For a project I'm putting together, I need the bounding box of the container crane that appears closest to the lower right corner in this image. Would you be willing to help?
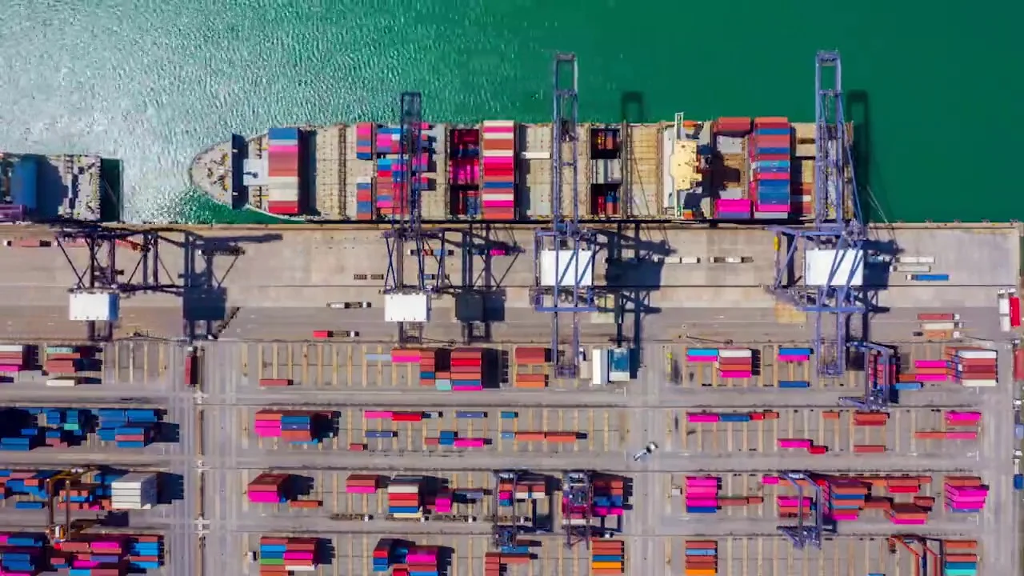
[886,533,940,576]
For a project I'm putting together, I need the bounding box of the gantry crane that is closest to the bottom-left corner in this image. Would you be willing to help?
[47,462,102,546]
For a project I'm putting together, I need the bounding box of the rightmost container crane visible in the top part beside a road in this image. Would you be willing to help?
[753,50,870,376]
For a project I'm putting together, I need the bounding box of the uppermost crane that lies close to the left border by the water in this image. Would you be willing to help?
[0,210,176,339]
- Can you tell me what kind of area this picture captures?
port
